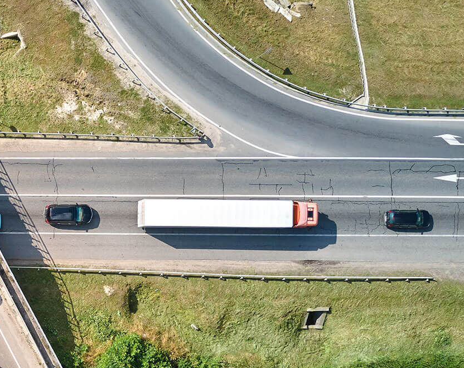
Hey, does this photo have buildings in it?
No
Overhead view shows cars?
Yes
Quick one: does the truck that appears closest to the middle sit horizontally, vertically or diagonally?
horizontally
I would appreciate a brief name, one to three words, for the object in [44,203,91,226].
car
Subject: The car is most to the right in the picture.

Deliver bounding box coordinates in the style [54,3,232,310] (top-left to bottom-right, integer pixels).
[382,208,430,231]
